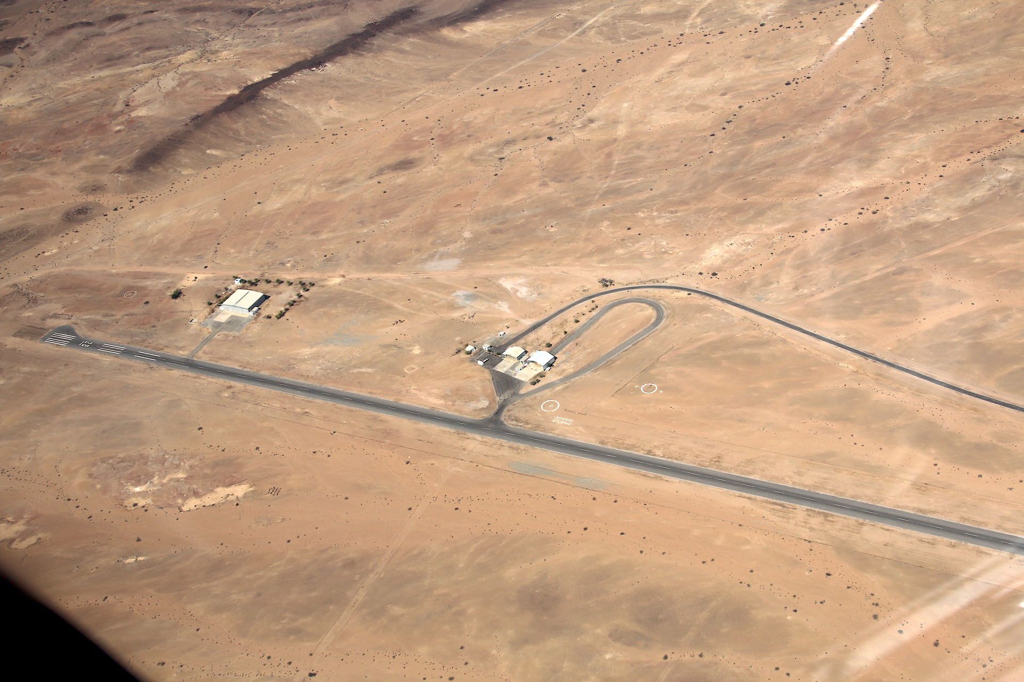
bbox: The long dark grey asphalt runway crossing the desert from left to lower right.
[43,330,1024,555]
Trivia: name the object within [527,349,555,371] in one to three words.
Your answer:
hangar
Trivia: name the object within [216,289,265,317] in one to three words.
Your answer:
hangar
